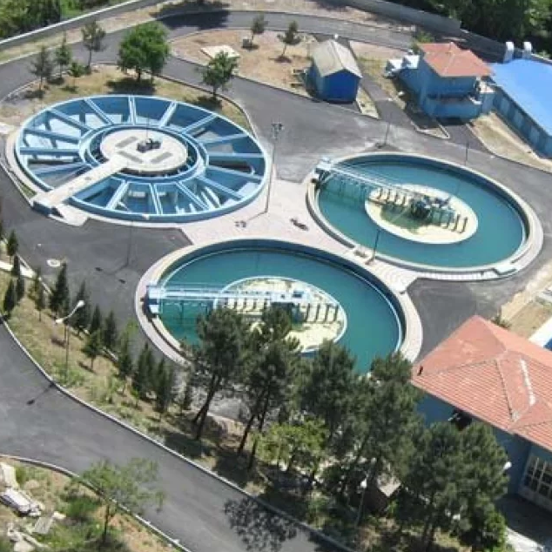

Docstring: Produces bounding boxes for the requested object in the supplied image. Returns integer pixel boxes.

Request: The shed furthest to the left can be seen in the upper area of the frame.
[313,37,363,103]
